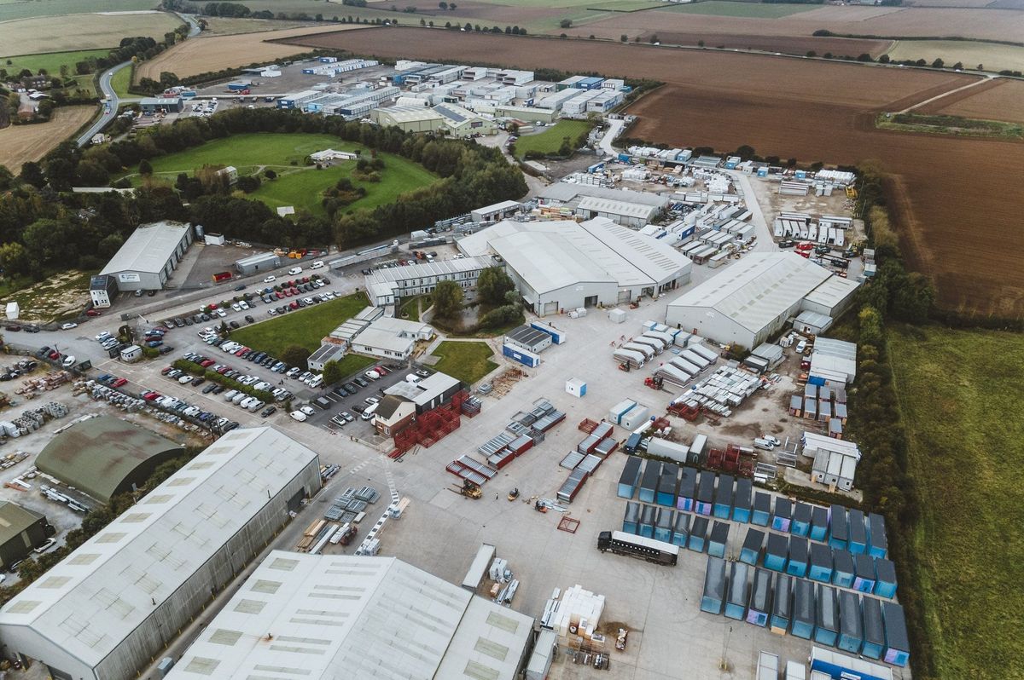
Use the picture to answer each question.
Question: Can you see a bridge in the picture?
No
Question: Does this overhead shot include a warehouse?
Yes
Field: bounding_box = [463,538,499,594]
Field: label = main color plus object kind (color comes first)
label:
white trailer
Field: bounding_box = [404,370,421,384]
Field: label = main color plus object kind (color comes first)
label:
white vehicle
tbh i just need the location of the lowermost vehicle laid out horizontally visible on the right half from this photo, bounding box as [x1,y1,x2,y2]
[599,534,680,570]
